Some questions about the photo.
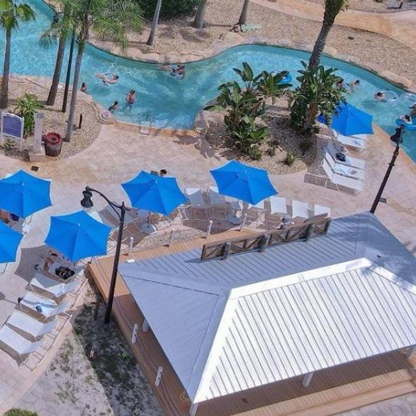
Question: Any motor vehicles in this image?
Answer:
No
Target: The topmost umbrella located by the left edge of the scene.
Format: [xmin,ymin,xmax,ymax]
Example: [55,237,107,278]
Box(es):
[0,176,52,238]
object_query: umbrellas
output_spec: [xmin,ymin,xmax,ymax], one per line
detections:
[0,176,52,238]
[212,164,275,225]
[318,107,373,154]
[46,215,110,279]
[122,174,187,236]
[0,225,22,261]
